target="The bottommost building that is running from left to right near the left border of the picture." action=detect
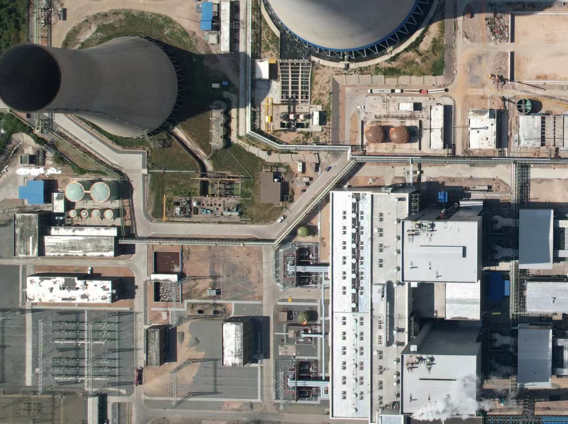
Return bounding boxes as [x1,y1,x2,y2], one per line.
[26,273,126,303]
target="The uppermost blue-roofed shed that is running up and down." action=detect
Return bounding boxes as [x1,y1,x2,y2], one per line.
[201,2,214,31]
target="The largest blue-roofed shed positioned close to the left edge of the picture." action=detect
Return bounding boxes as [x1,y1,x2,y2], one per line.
[19,180,49,204]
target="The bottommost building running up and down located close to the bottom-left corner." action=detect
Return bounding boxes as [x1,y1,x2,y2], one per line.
[88,395,102,424]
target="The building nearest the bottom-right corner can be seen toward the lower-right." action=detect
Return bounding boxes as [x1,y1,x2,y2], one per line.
[515,325,553,389]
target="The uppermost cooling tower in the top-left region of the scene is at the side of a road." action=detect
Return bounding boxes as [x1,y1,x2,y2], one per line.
[0,32,188,144]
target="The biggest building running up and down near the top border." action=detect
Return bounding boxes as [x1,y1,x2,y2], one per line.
[220,1,234,53]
